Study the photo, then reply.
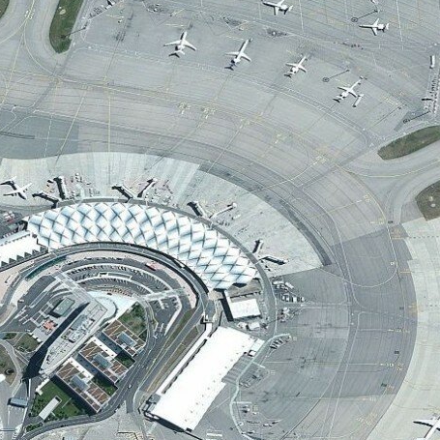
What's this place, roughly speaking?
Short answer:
airport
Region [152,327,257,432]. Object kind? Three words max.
building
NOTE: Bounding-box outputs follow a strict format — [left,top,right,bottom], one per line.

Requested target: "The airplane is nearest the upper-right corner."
[359,16,391,36]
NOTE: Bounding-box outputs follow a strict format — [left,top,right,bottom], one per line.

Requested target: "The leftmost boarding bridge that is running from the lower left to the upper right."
[136,176,158,200]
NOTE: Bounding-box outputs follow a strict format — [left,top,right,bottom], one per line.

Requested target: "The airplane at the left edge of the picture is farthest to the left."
[7,179,26,198]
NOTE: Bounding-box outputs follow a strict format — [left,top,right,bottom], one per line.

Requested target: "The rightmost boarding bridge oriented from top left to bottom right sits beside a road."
[188,198,206,219]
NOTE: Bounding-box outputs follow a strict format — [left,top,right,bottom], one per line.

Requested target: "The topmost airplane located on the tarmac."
[262,0,296,16]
